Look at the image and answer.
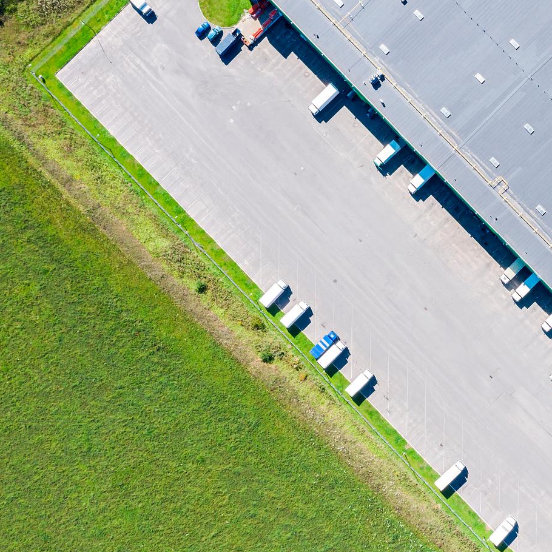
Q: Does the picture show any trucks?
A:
Yes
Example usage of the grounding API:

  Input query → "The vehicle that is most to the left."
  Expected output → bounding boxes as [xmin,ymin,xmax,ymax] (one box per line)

[131,0,154,16]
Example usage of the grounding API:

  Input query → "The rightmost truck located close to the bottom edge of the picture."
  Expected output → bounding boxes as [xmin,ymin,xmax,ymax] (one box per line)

[490,514,517,544]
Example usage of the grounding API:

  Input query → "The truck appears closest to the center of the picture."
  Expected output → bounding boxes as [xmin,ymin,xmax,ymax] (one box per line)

[260,278,290,307]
